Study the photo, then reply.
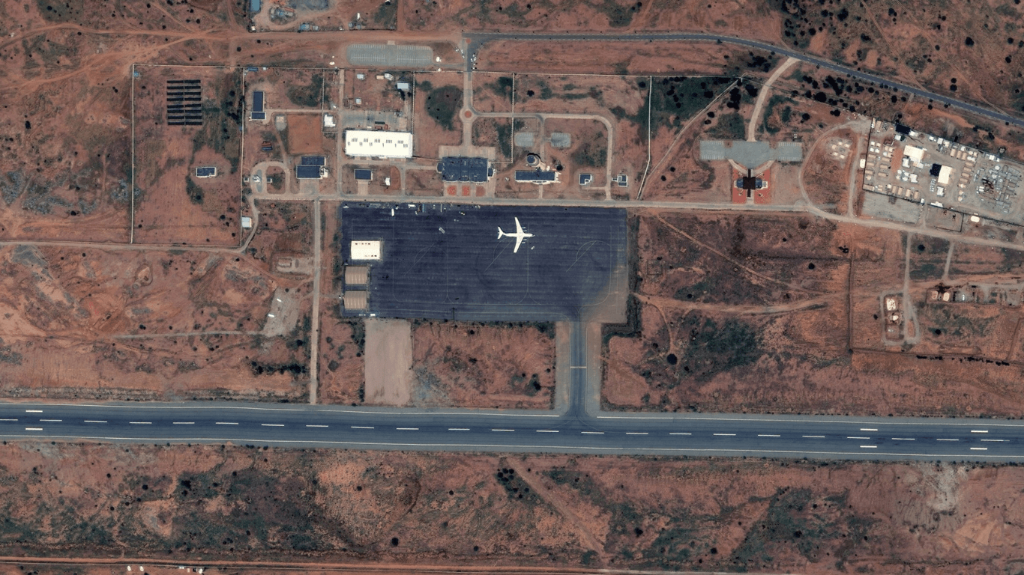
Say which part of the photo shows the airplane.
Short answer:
center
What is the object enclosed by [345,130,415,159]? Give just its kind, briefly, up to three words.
hangar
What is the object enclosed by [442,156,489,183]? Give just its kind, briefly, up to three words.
building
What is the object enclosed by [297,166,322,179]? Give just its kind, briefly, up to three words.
building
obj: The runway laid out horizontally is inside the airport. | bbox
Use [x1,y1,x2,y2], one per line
[0,401,1024,463]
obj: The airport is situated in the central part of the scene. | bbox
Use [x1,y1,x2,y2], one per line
[0,203,1024,463]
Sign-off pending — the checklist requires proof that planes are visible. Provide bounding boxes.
[498,216,535,252]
